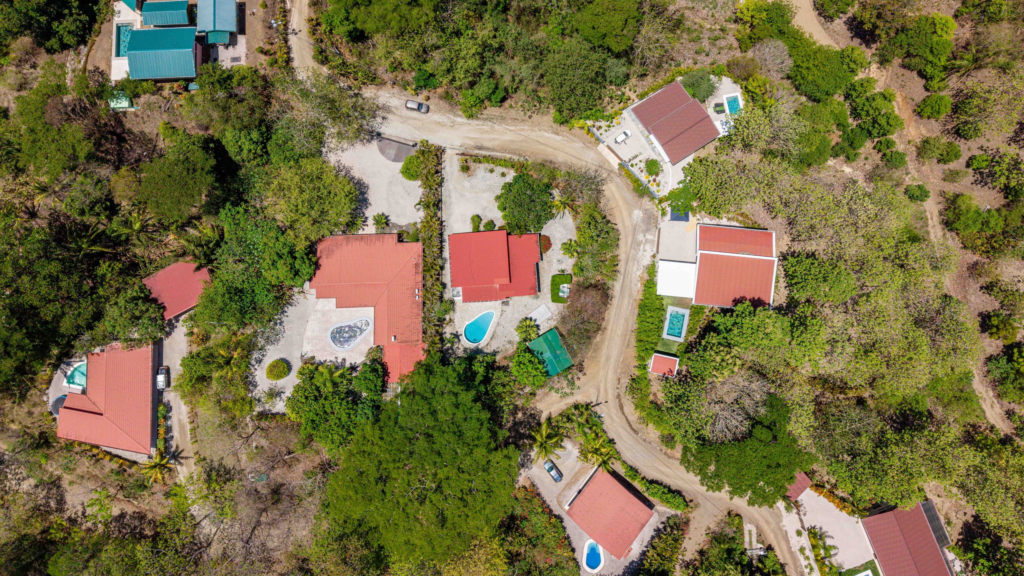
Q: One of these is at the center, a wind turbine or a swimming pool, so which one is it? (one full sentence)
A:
Visible at the center is a swimming pool.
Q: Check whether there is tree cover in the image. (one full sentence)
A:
Yes, the picture does contain tree cover.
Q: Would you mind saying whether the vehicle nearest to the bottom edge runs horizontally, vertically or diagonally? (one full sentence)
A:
In this picture, the vehicle nearest to the bottom edge lies diagonally.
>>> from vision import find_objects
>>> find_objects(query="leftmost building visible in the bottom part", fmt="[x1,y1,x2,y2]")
[57,341,156,455]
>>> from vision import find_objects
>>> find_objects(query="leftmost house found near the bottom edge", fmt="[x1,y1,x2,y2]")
[563,465,655,561]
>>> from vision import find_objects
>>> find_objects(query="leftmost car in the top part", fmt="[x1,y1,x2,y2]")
[404,101,430,115]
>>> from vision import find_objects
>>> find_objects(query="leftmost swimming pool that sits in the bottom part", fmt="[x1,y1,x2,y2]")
[65,359,87,391]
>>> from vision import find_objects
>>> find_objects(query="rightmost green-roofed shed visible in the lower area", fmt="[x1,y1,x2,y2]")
[529,328,574,378]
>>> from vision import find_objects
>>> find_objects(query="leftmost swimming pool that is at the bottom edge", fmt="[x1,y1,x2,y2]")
[582,538,604,574]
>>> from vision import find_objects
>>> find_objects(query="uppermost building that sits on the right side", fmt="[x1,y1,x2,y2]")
[631,80,721,165]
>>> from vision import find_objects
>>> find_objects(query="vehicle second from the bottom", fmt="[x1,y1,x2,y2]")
[156,367,170,392]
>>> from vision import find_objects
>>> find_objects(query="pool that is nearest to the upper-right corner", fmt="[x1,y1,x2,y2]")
[723,92,744,120]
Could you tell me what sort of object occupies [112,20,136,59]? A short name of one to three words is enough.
swimming pool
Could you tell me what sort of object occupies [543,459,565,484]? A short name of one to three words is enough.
vehicle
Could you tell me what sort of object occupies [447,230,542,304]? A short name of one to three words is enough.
house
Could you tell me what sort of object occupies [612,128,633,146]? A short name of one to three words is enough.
car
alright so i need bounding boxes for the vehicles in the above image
[156,367,170,392]
[612,128,633,146]
[543,459,565,484]
[404,101,430,115]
